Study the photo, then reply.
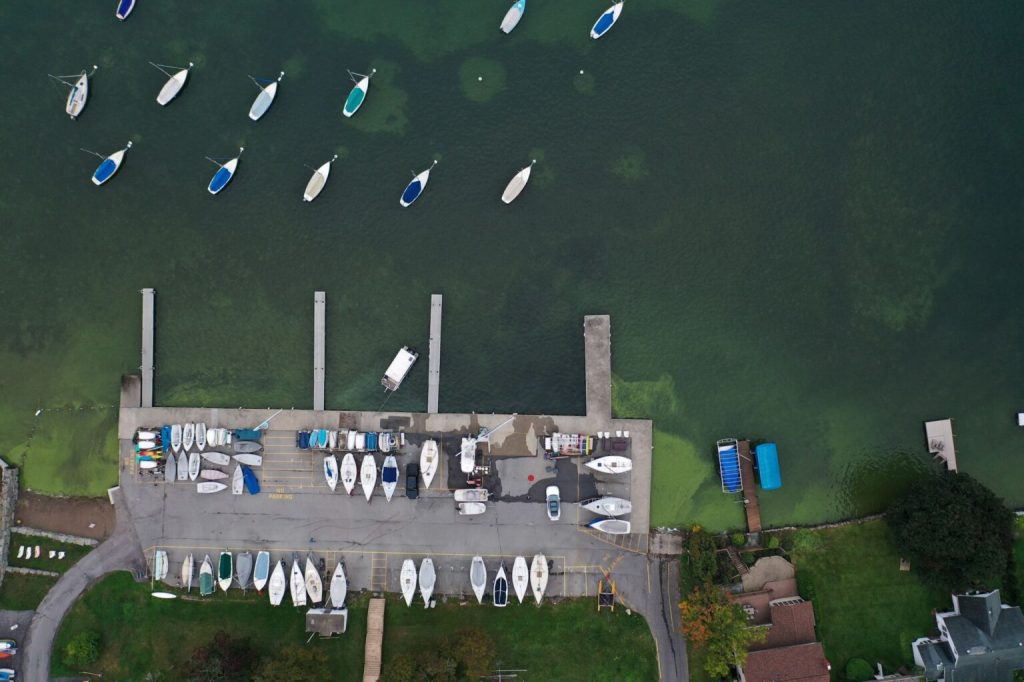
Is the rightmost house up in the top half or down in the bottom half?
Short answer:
bottom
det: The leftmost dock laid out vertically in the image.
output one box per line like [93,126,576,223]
[140,288,158,407]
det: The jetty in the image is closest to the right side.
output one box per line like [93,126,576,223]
[926,418,959,475]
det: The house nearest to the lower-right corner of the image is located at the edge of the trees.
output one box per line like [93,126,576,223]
[913,588,1024,682]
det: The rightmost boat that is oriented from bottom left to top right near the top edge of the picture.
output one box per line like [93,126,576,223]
[589,0,623,41]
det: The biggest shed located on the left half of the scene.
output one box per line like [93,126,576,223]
[306,607,349,633]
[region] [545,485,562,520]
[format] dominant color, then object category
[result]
white car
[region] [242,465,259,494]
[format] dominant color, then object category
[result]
blue boat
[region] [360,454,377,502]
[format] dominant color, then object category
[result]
white boat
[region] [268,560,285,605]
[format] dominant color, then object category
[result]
white boat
